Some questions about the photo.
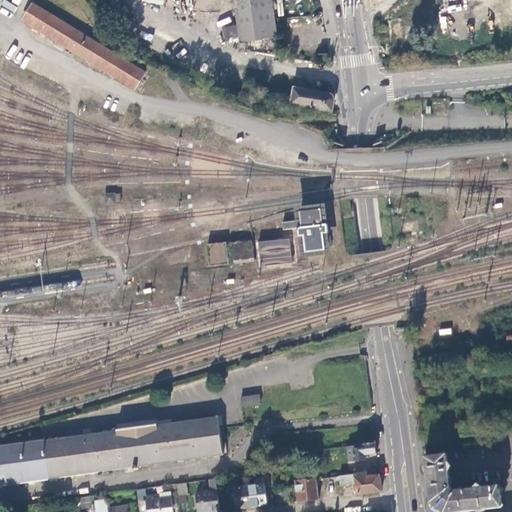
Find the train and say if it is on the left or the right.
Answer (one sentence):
The train appears in the left half of the scene.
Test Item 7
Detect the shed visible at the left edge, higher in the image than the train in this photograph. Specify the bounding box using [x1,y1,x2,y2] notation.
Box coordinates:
[20,3,146,90]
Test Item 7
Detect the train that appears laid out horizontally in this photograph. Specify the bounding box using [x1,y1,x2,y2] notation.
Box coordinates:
[0,280,82,300]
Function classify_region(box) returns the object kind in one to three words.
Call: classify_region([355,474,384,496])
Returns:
house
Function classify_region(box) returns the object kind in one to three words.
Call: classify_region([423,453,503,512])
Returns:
building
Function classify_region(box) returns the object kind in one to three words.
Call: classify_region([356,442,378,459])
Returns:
house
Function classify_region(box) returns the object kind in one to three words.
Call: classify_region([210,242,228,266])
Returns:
building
